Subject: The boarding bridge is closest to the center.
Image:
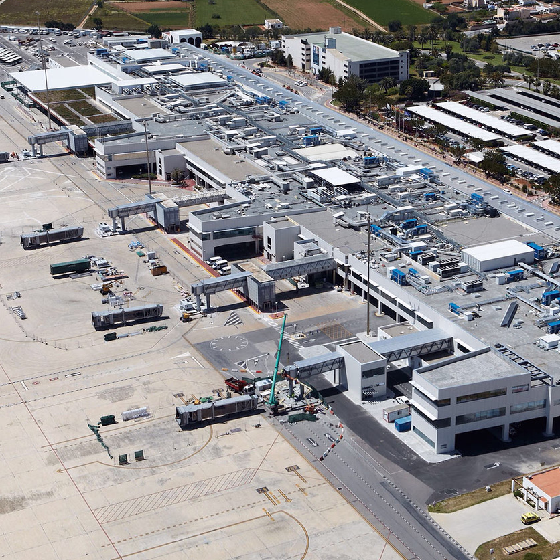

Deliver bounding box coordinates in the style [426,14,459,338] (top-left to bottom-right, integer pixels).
[183,254,338,321]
